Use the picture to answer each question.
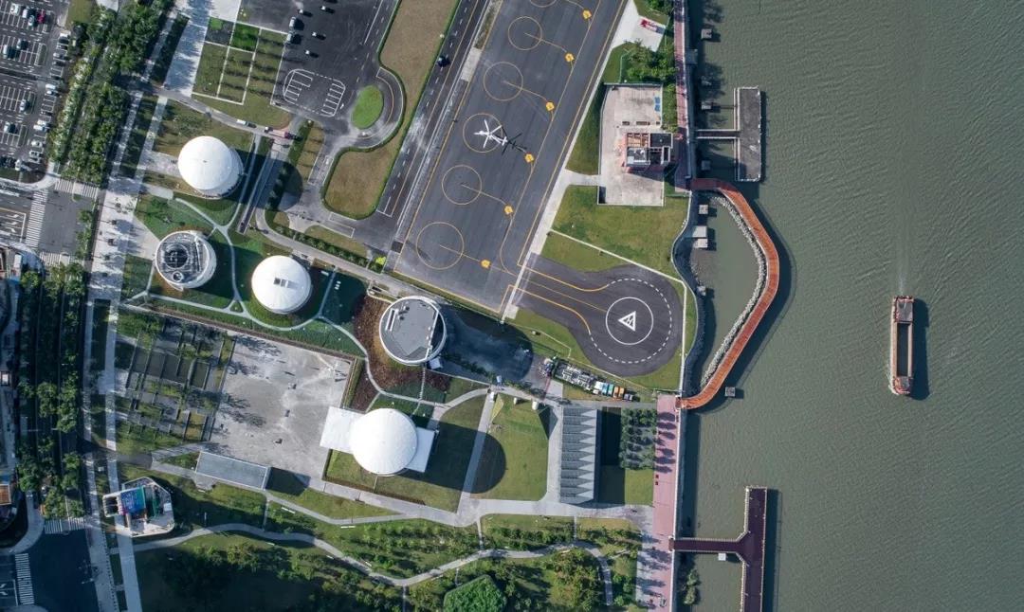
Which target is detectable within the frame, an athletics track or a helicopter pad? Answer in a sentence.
The one in the frame is a helicopter pad.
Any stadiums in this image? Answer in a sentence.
No, I can see no stadium in this picture.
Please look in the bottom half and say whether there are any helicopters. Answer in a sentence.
No, there's no helicopter to be seen in the bottom half.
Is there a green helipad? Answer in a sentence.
No, the frame has no green helipad in it.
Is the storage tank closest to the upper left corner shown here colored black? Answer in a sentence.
No, from above the storage tank closest to the upper left corner looks white.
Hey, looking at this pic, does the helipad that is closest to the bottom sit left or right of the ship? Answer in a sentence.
The helipad that is closest to the bottom is to the left of the ship.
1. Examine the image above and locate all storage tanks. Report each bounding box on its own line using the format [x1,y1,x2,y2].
[155,230,219,292]
[177,135,245,197]
[252,254,317,313]
[320,401,435,477]
[378,296,451,365]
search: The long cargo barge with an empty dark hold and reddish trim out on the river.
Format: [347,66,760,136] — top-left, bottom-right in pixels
[890,296,915,394]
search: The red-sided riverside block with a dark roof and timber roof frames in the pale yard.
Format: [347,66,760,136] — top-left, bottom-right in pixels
[621,132,683,172]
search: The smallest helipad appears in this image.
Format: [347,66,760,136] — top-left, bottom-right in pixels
[508,254,684,376]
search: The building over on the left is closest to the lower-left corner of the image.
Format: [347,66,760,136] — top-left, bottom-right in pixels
[0,468,36,543]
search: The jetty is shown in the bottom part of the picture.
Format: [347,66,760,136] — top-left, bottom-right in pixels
[676,487,767,612]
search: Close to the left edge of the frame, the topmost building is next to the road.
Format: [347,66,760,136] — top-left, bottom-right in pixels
[0,248,33,276]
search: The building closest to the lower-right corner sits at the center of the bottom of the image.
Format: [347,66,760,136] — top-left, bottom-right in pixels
[559,406,601,504]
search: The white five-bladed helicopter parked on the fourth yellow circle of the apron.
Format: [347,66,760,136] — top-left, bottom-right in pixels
[474,120,508,150]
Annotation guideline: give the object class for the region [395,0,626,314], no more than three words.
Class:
helipad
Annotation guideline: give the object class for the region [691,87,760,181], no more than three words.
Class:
pier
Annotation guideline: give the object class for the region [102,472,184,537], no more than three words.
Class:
building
